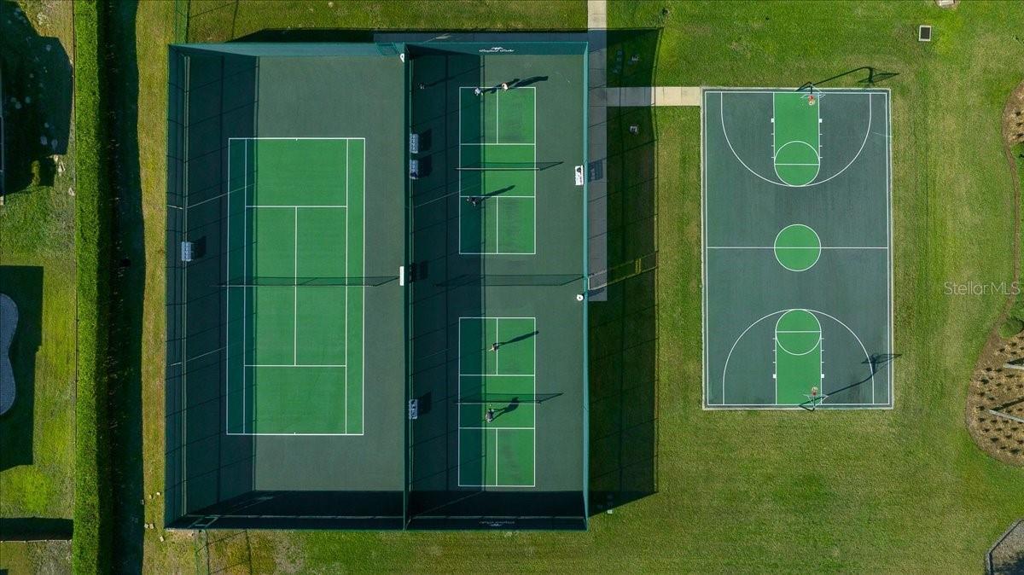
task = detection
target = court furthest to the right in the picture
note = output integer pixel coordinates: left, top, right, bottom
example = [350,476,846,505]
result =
[702,88,894,409]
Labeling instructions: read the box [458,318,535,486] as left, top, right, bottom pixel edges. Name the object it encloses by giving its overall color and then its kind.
green sports court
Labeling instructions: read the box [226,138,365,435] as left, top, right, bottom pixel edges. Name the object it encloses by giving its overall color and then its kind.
green tennis court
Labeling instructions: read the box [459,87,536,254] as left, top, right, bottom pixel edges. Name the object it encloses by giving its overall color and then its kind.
green sports court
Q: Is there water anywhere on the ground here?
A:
No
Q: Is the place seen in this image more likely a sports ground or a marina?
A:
sports ground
